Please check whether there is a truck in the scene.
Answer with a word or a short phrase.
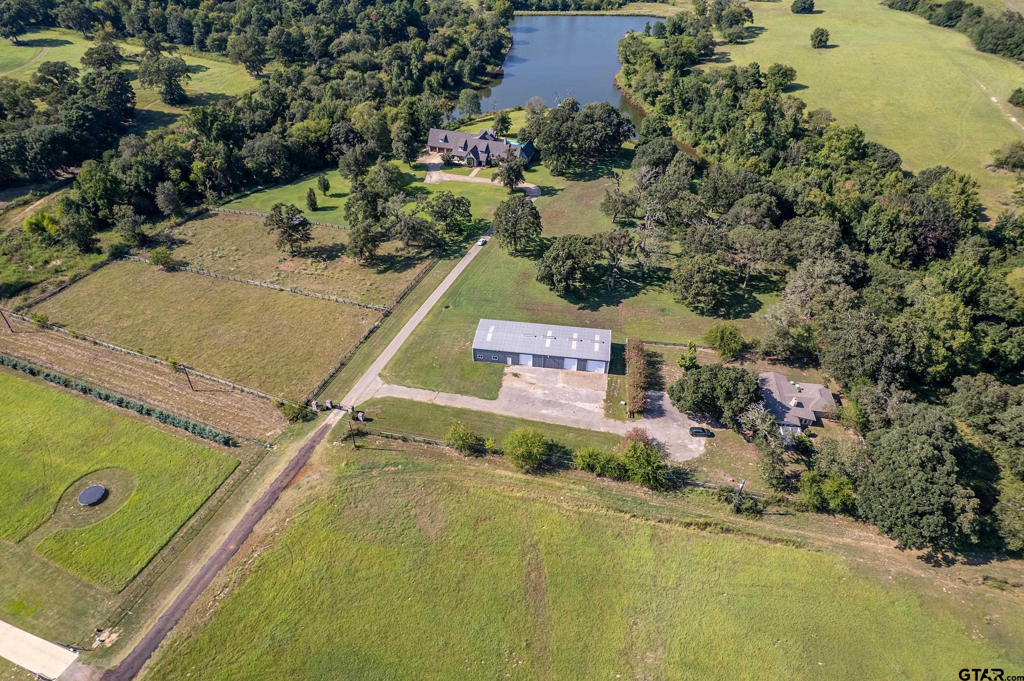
No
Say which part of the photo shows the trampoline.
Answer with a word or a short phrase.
bottom left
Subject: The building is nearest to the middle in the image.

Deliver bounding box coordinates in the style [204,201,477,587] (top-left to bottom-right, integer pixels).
[472,318,612,374]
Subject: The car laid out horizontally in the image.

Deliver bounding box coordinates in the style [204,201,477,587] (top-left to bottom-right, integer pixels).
[690,426,712,438]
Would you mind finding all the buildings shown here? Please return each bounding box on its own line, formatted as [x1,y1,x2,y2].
[472,318,612,374]
[758,375,837,432]
[428,124,538,168]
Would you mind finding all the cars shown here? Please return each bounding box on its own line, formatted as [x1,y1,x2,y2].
[475,236,485,245]
[690,426,712,438]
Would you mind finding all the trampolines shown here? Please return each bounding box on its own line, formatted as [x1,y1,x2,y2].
[77,485,106,507]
